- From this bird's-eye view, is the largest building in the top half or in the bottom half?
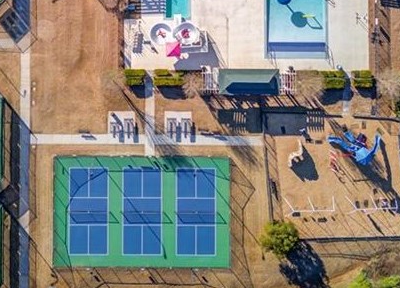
top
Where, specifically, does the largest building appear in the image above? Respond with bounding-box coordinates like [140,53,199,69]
[218,68,279,94]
